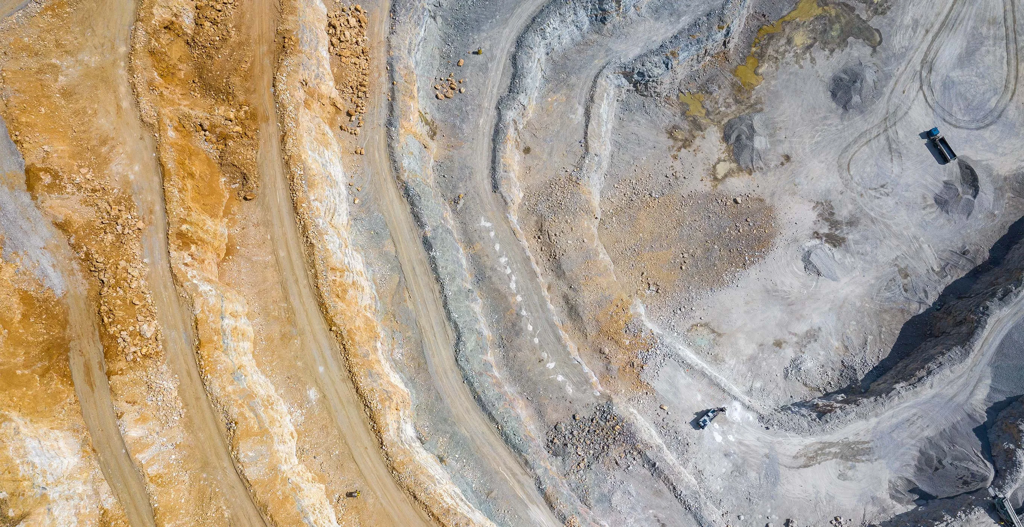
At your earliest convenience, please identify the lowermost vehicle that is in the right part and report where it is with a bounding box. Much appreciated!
[929,126,958,163]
